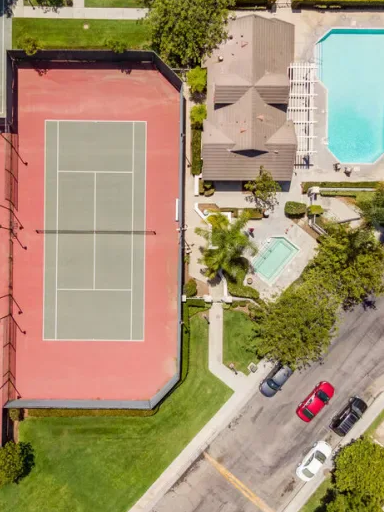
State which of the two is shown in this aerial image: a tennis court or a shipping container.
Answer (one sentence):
There is a tennis court in the scene.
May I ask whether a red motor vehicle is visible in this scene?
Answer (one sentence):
Yes, the frame does contain a red motor vehicle.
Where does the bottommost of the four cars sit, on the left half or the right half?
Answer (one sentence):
The bottommost of the four cars sits on the right side.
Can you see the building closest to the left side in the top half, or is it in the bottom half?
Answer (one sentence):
The top half of the photo is where the building closest to the left side is.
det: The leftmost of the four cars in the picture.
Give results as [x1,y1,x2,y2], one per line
[258,360,297,397]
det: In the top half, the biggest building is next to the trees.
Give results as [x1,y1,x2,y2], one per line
[200,13,297,181]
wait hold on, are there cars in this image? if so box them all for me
[258,360,297,397]
[329,396,369,439]
[295,441,331,483]
[296,381,334,423]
